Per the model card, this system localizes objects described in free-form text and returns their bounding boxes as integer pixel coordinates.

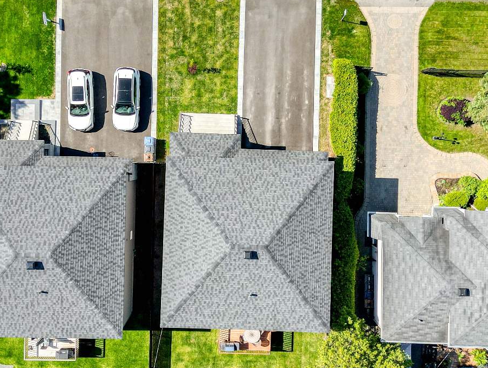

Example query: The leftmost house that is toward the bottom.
[0,138,136,340]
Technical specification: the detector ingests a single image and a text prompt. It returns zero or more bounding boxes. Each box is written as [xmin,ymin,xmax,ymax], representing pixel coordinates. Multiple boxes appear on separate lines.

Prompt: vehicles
[63,67,95,131]
[109,66,141,132]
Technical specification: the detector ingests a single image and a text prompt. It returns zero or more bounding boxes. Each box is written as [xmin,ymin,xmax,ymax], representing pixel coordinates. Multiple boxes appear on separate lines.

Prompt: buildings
[159,131,336,333]
[366,208,488,348]
[0,138,136,340]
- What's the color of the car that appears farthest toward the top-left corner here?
white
